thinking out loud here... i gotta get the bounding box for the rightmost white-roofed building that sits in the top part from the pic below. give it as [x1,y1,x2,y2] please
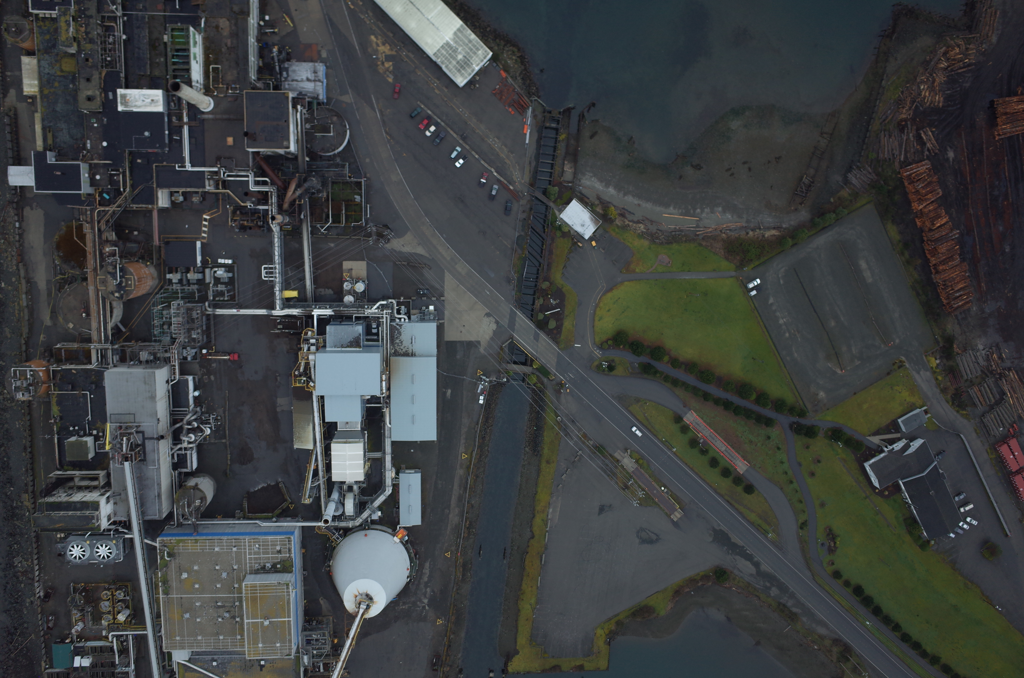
[558,199,602,239]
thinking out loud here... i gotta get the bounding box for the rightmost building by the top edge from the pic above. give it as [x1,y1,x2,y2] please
[370,0,493,91]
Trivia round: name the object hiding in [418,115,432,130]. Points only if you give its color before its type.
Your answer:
red vehicle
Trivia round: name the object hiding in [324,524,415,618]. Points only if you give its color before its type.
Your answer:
white silo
